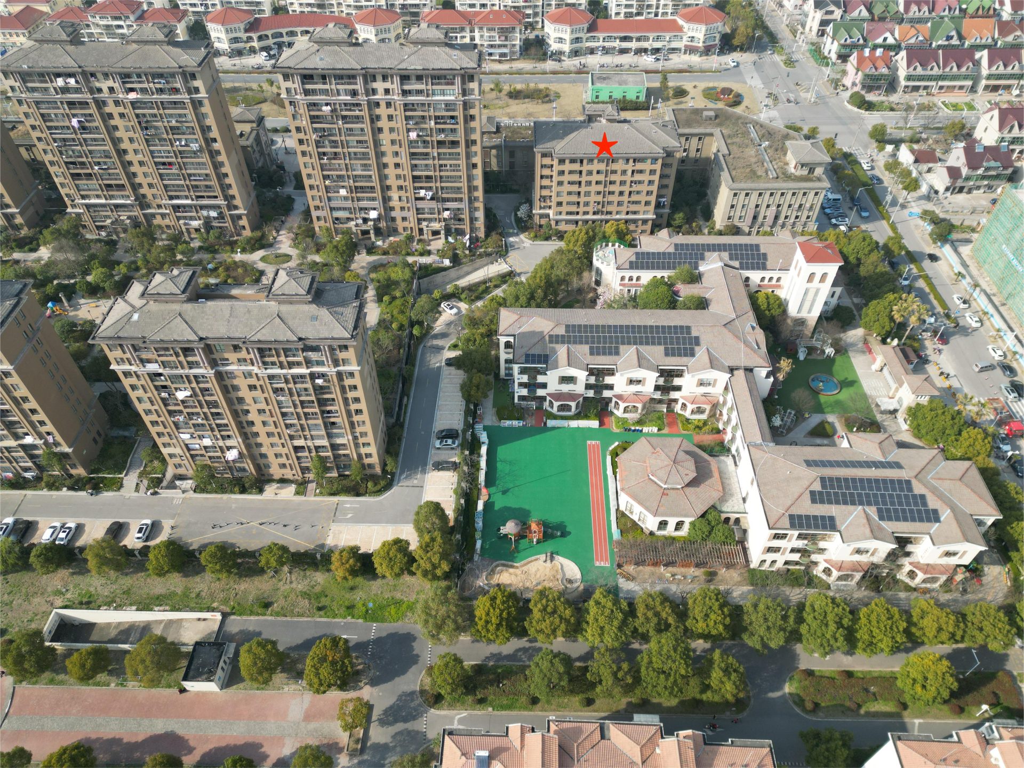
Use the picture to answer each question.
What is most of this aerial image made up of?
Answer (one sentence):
The largest share of the image is taken up by buildings.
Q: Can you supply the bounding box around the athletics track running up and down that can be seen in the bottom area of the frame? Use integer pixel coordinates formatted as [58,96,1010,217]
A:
[587,441,610,565]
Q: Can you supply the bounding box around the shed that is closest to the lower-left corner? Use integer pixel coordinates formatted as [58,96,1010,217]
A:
[181,639,239,690]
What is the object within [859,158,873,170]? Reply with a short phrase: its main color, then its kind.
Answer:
white vehicle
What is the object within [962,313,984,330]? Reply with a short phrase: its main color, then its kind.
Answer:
white car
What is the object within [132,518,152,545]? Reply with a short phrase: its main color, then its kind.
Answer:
white car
